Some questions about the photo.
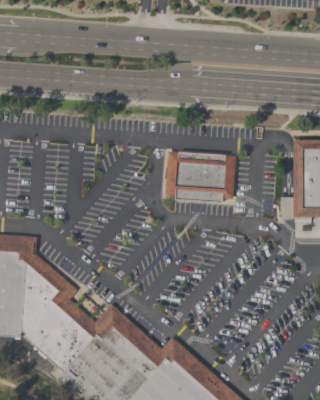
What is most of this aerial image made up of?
paved ground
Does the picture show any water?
No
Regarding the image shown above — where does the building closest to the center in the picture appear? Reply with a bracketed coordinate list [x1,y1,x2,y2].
[166,152,236,202]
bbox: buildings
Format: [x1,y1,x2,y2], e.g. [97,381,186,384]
[281,139,320,220]
[166,152,236,202]
[0,234,245,400]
